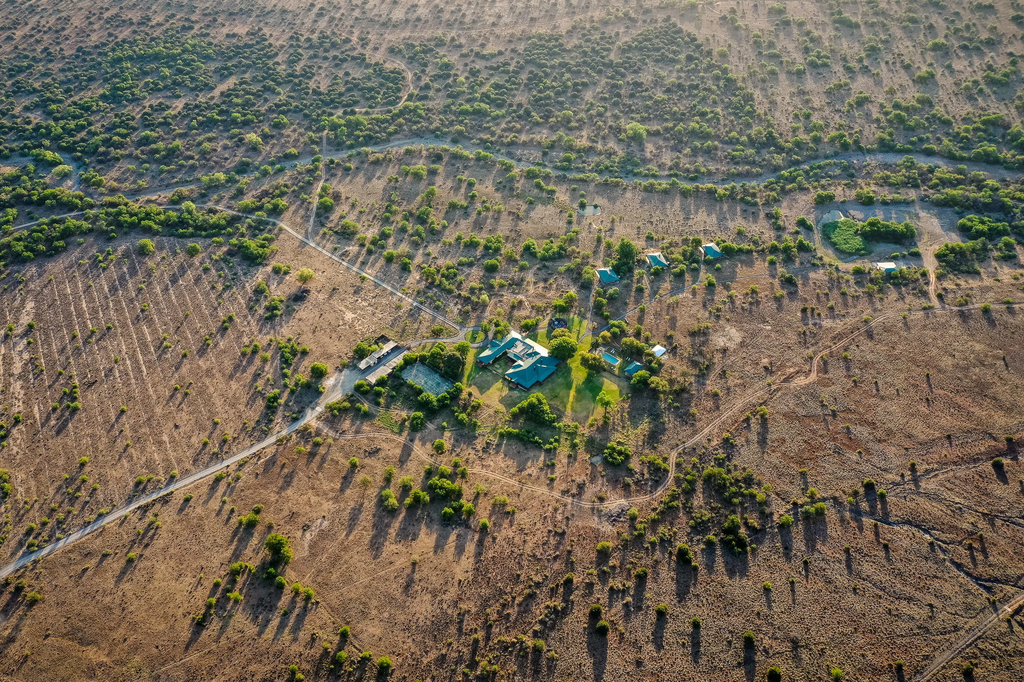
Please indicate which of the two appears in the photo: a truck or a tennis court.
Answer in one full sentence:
It is a tennis court that can be seen here.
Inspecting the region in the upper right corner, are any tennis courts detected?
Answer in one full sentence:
No, I see no tennis court in the upper right corner.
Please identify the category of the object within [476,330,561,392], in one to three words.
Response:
house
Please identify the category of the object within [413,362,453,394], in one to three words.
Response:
tennis court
